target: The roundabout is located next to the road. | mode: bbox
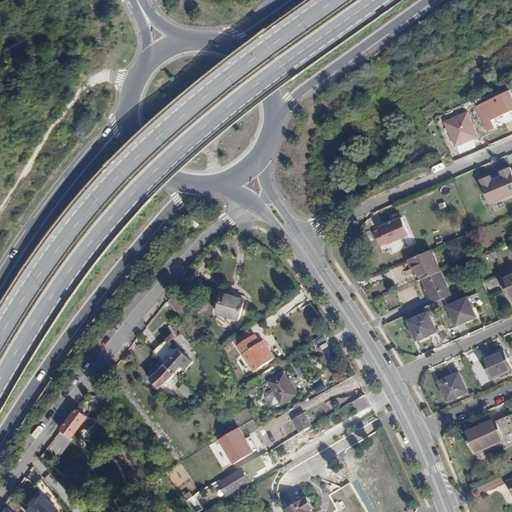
[112,24,292,228]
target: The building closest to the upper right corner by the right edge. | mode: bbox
[473,84,512,132]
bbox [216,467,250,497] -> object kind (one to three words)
house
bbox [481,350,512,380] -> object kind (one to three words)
house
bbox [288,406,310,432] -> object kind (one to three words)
building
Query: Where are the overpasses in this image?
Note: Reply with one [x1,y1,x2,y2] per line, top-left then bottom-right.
[0,0,414,412]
